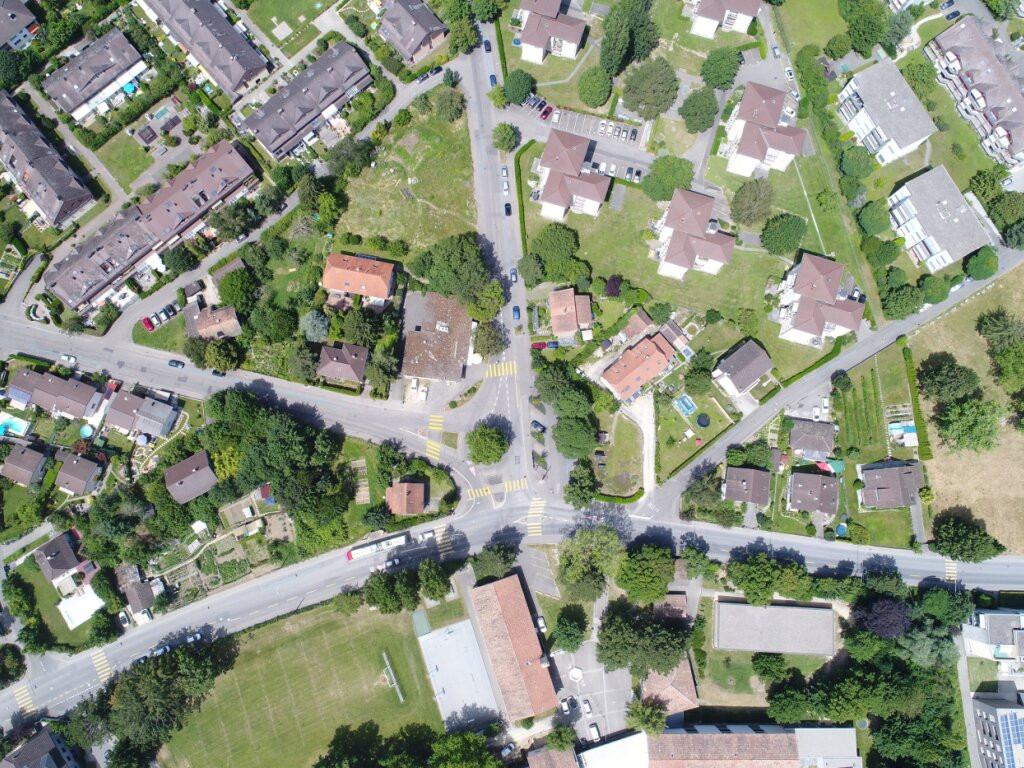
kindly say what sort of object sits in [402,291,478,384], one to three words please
building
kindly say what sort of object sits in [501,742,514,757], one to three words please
vehicle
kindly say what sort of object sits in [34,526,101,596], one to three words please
house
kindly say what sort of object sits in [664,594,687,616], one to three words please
shed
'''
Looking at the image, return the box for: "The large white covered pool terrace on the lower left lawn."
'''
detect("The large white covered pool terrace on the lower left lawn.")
[66,584,102,613]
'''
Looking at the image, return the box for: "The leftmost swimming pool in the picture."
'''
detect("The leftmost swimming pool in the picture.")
[0,412,31,435]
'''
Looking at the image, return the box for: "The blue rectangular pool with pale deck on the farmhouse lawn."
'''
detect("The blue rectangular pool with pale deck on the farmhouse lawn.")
[675,394,697,415]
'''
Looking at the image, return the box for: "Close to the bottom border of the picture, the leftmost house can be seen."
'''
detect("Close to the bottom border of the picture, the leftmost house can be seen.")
[1,727,79,768]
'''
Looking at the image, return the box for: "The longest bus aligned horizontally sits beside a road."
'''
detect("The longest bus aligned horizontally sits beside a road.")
[346,536,411,560]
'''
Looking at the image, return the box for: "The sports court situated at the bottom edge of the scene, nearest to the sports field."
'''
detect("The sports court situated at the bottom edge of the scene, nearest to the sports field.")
[418,620,504,735]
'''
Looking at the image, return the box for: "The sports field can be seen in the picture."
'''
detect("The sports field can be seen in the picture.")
[161,601,444,768]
